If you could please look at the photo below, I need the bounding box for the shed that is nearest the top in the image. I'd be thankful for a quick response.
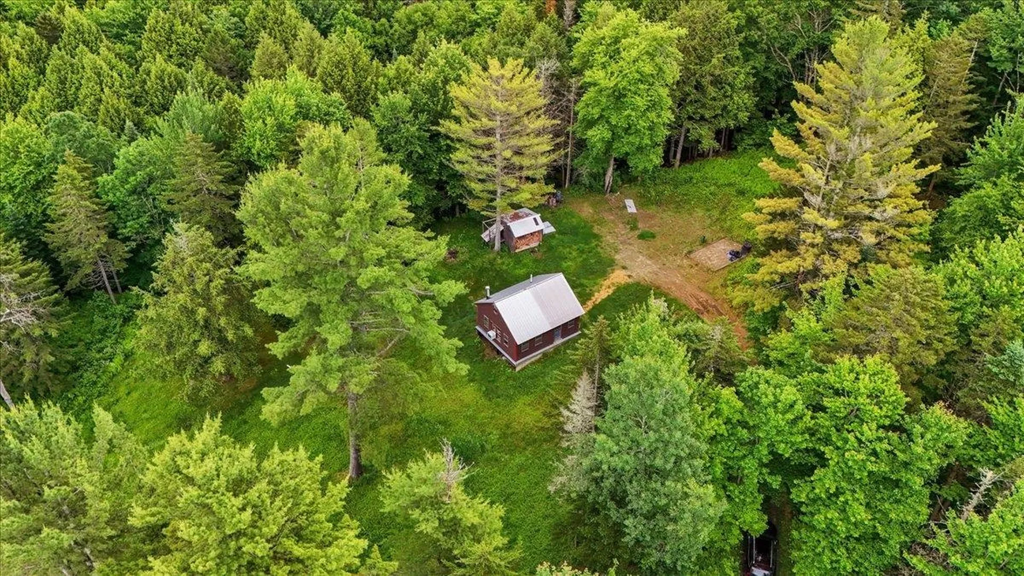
[499,208,545,252]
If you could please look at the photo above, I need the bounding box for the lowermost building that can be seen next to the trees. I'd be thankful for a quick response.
[474,272,585,368]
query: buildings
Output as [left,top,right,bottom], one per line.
[499,208,545,252]
[474,272,585,368]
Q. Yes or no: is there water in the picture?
No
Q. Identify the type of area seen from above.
forest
